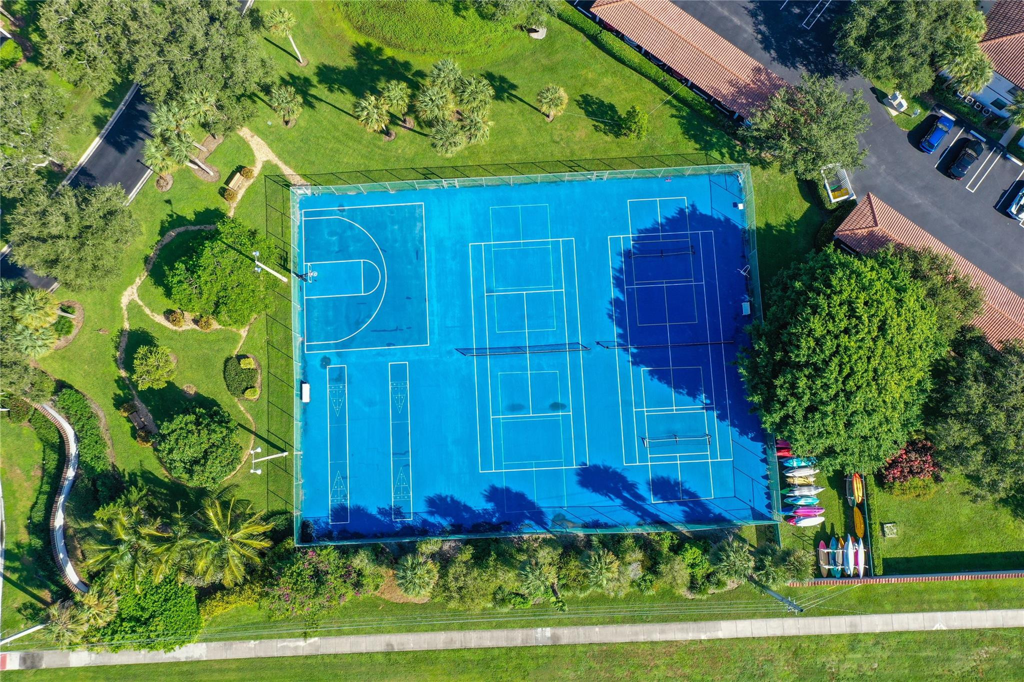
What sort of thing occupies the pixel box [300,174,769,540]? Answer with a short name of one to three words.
sports court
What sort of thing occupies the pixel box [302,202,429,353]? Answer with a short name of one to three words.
basketball court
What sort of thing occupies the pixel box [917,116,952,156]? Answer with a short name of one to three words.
car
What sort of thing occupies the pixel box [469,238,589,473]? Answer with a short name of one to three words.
tennis court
